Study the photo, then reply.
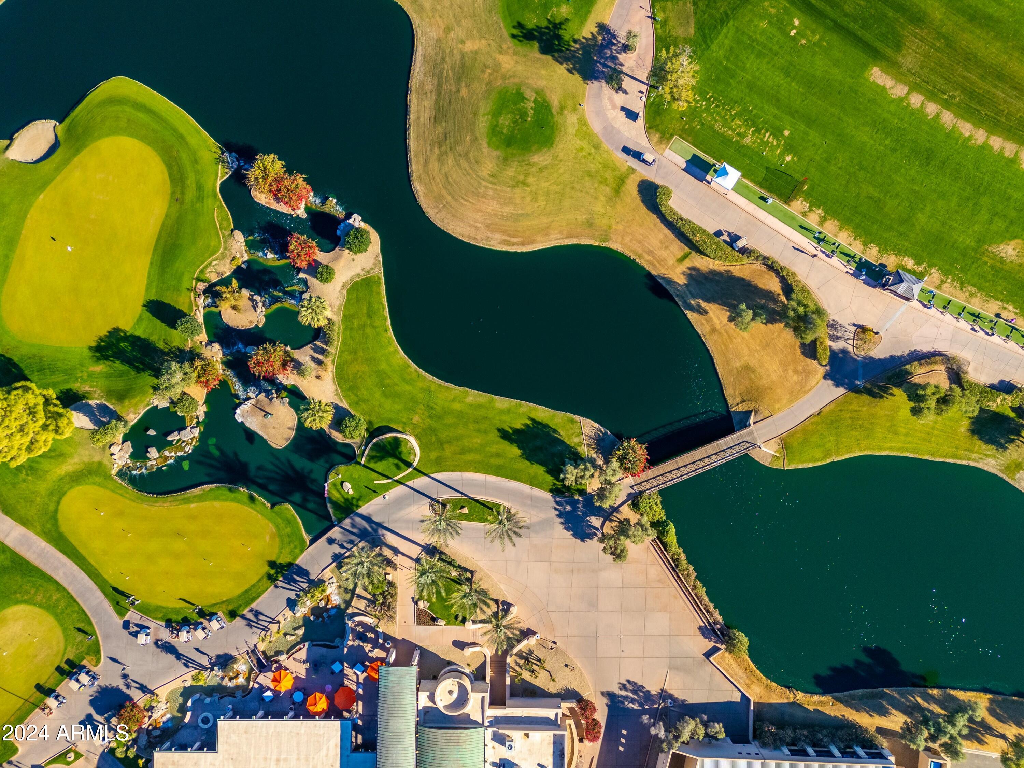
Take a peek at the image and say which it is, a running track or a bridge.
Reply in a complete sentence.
I can see a bridge in this picture.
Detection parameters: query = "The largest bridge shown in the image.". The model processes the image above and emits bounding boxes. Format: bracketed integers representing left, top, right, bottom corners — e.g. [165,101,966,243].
[629,423,765,500]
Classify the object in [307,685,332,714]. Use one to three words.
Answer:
umbrella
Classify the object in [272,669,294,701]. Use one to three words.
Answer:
umbrella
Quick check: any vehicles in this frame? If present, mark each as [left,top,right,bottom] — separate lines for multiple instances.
[210,614,226,631]
[196,624,212,641]
[47,691,67,709]
[137,628,151,645]
[731,237,748,251]
[178,625,192,642]
[639,152,656,168]
[78,667,98,685]
[69,674,89,692]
